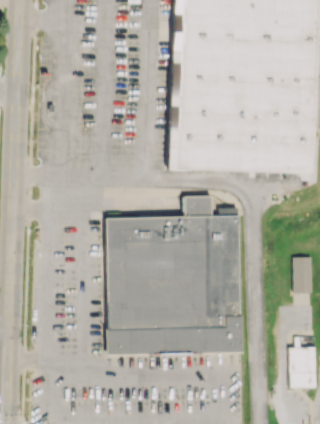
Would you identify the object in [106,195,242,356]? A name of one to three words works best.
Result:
building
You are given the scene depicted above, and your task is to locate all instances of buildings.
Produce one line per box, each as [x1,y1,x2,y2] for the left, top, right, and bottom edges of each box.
[288,336,316,390]
[292,257,312,293]
[168,0,320,183]
[106,195,242,356]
